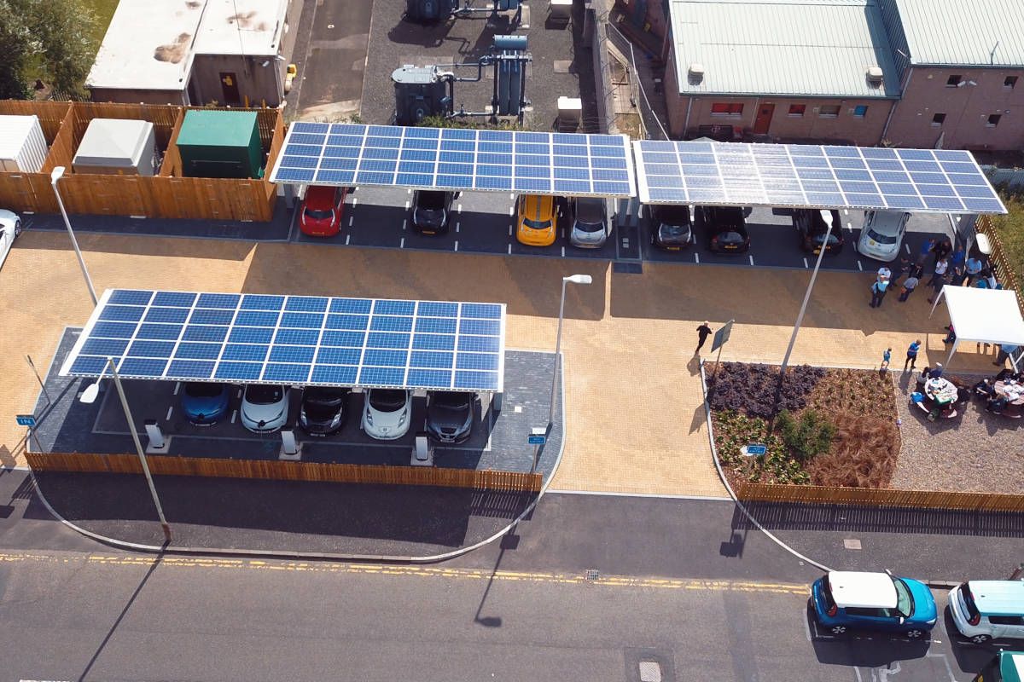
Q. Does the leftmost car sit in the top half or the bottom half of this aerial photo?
top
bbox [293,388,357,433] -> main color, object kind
black car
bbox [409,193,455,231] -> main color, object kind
black car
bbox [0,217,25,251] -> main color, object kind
white car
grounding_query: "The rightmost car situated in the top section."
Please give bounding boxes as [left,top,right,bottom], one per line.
[851,215,900,260]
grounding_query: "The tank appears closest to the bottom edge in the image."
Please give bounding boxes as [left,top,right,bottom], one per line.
[391,80,439,125]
